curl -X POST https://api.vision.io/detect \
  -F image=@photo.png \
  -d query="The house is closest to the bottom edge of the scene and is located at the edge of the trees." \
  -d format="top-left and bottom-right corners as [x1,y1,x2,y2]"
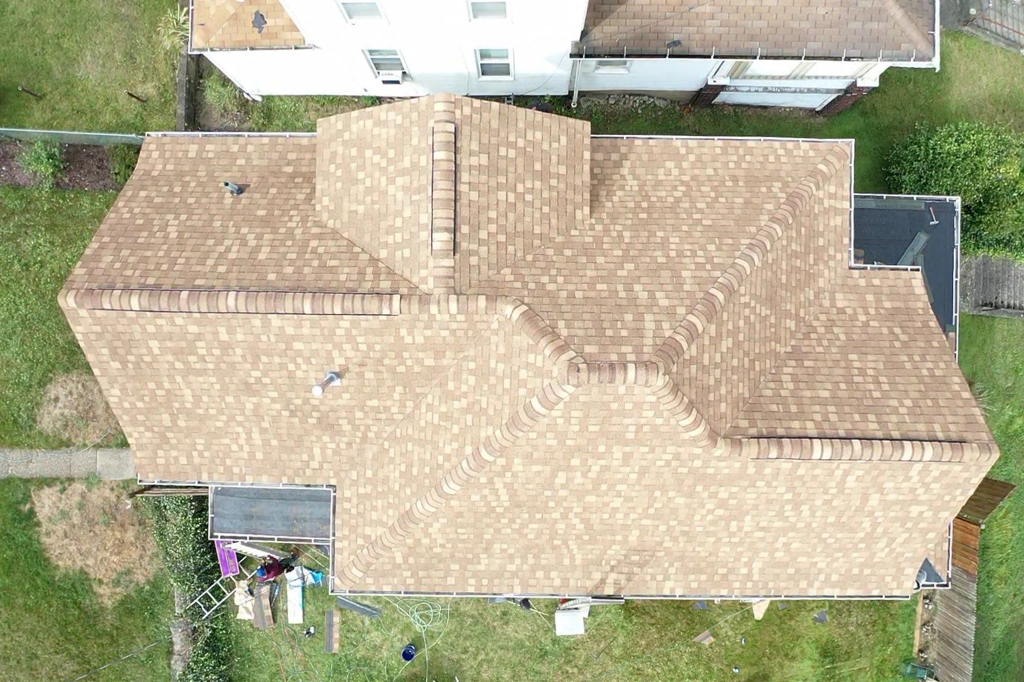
[62,93,996,603]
